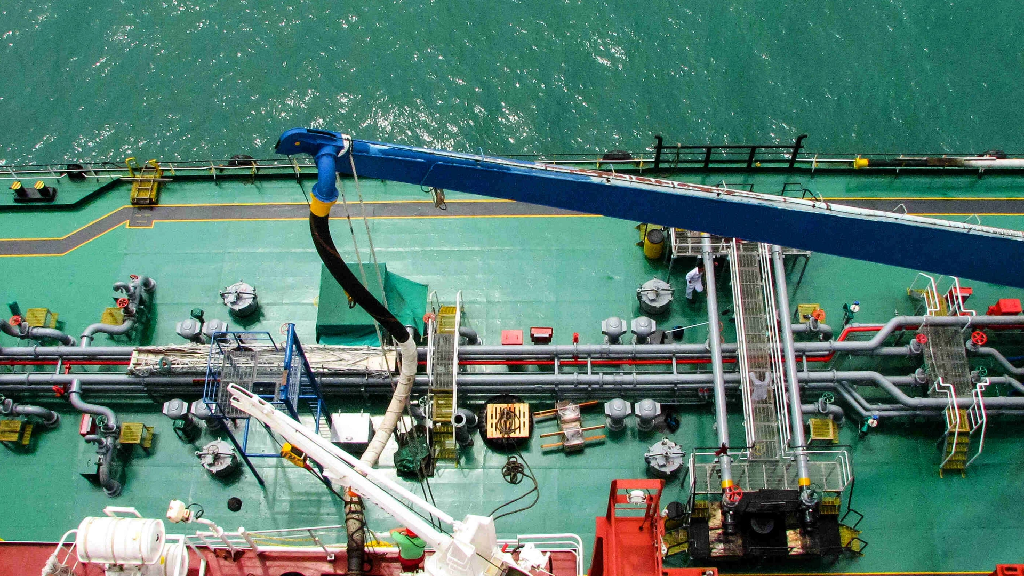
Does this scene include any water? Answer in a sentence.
Yes, the picture does contain water.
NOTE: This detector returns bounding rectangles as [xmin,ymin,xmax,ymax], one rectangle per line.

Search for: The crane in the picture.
[224,380,535,576]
